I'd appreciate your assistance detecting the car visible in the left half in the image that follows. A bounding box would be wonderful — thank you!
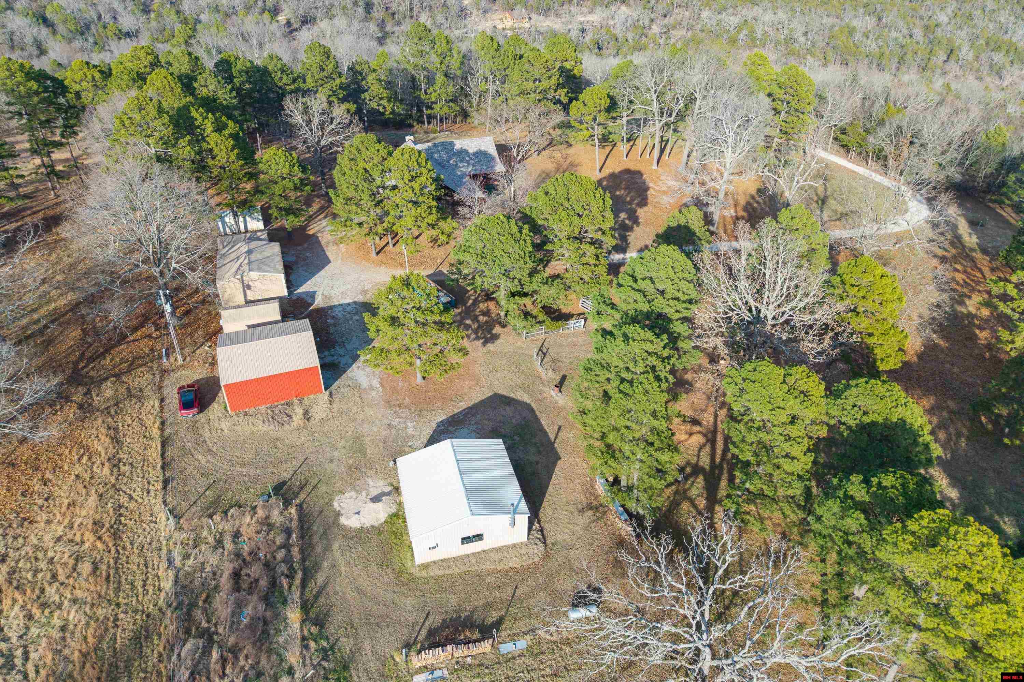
[174,381,204,424]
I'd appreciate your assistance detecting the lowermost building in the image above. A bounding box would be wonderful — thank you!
[394,437,532,567]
